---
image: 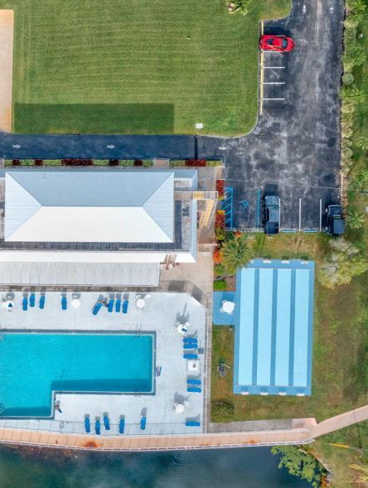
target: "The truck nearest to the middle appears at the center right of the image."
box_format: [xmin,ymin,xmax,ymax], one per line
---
[261,195,284,235]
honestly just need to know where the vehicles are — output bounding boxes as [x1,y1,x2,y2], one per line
[322,203,345,236]
[259,33,295,51]
[261,195,284,235]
